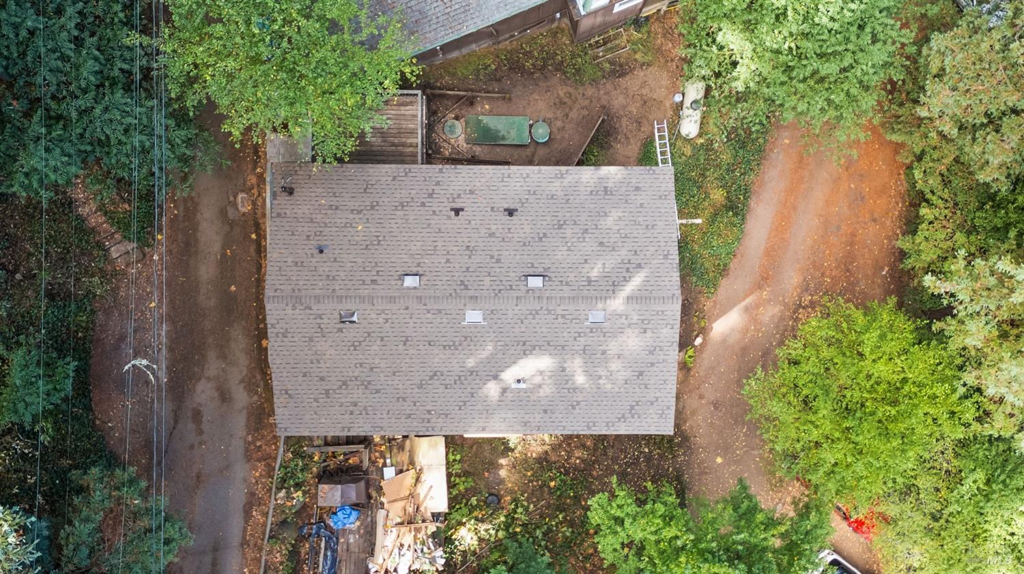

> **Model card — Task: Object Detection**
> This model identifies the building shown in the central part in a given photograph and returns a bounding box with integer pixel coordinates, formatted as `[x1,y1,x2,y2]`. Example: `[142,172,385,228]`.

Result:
[263,164,682,437]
